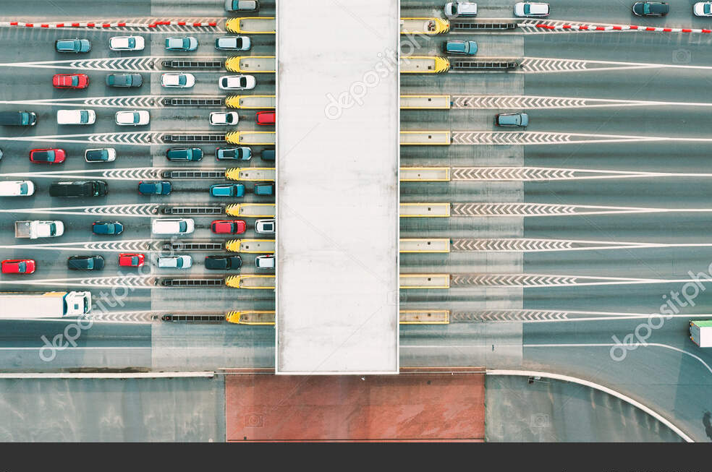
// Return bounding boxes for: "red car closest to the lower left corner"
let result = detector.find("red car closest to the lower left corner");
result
[0,259,36,276]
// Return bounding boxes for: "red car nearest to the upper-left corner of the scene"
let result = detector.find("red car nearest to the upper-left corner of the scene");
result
[52,72,89,90]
